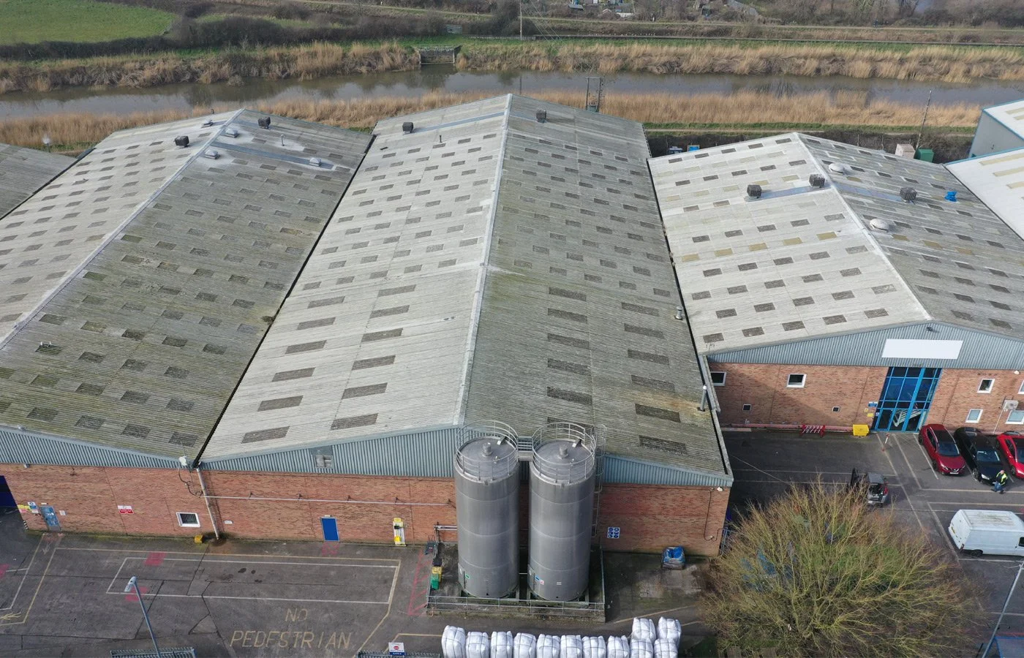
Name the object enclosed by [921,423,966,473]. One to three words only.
car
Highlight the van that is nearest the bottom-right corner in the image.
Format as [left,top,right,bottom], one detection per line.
[947,512,1024,558]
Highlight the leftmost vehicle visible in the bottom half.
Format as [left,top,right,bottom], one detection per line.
[840,468,896,507]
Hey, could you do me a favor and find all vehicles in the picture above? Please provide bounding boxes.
[840,468,896,507]
[947,512,1024,558]
[957,429,1007,479]
[921,423,966,473]
[996,428,1024,475]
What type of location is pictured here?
industrial area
